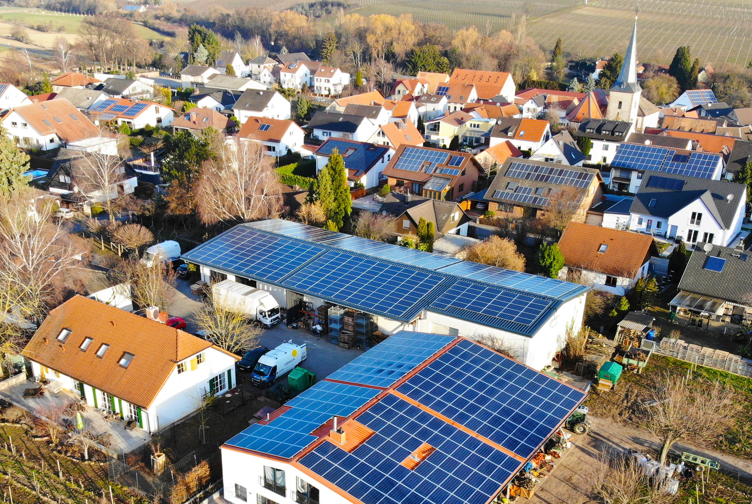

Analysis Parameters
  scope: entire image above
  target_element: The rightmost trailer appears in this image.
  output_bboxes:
[669,443,749,482]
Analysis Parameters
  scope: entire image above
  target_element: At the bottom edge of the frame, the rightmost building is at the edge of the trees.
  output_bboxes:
[221,326,590,504]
